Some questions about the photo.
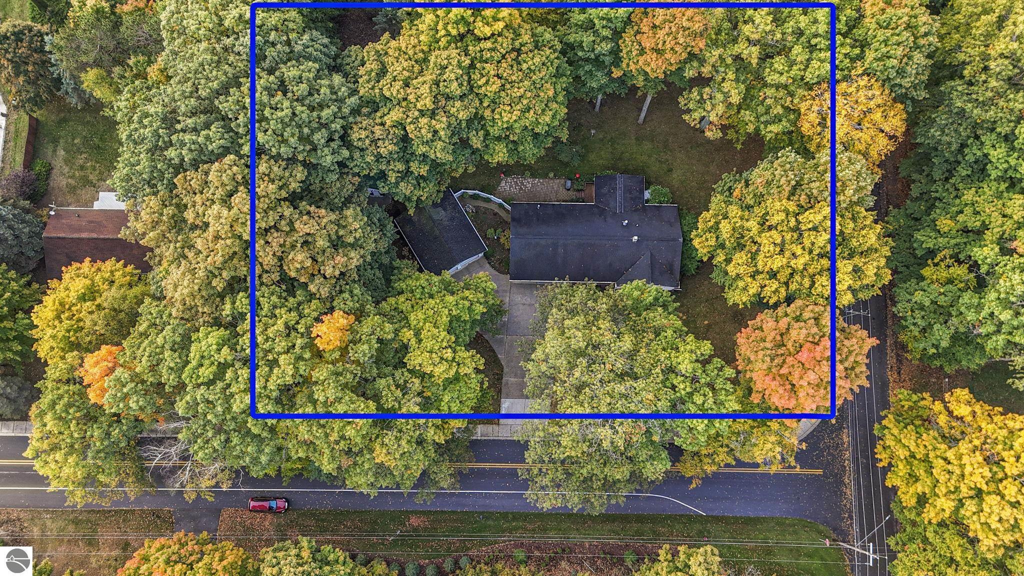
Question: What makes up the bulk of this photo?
trees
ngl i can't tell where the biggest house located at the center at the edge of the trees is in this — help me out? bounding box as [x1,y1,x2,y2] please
[510,174,684,293]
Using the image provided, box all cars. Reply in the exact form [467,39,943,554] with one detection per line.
[249,496,291,515]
